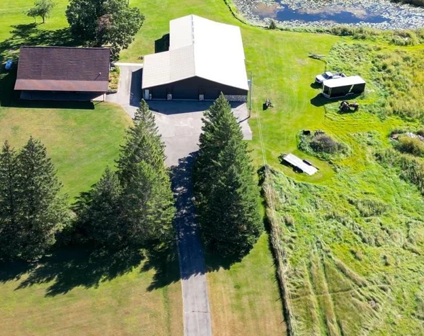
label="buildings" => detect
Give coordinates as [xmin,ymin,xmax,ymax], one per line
[142,14,250,102]
[13,45,113,101]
